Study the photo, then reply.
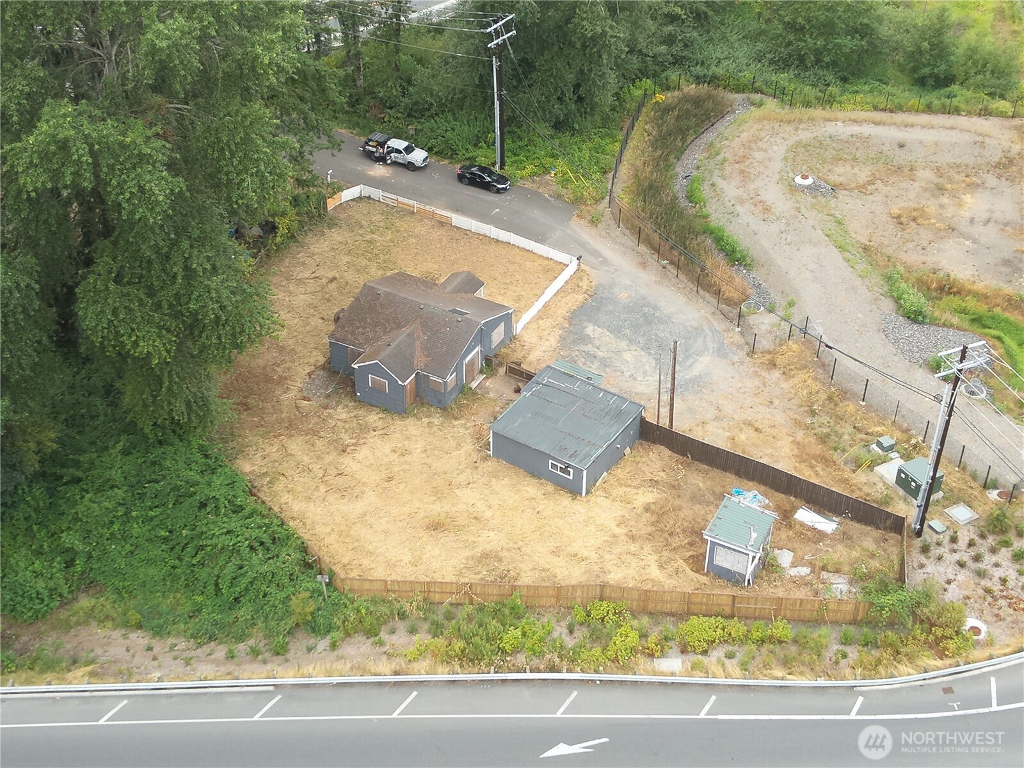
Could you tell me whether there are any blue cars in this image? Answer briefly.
No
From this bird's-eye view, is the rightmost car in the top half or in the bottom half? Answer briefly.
top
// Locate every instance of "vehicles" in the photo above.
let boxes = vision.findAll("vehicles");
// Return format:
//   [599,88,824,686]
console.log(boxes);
[456,163,515,193]
[359,136,435,171]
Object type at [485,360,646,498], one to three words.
building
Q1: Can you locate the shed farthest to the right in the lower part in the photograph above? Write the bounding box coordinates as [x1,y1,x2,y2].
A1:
[699,498,788,587]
